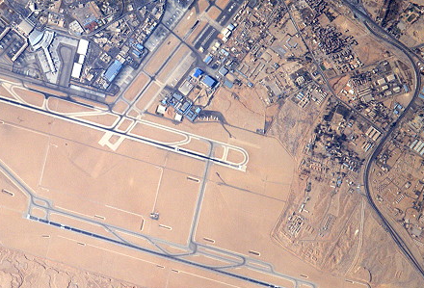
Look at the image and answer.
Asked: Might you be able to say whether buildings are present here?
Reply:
Yes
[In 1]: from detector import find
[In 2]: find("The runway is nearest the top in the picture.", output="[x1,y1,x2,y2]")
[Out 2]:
[0,95,247,170]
